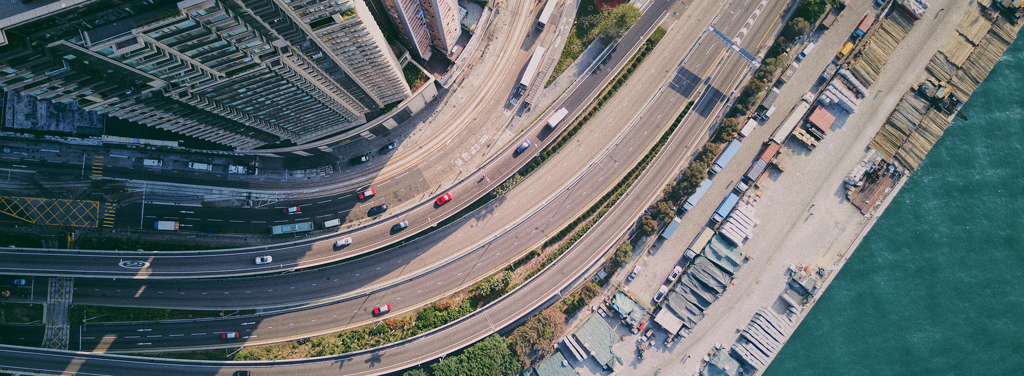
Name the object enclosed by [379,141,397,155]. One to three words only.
car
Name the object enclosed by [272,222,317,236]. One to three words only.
vehicle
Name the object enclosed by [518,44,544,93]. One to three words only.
bus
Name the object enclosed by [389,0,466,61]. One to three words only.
building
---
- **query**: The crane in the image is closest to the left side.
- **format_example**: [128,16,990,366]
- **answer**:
[925,82,967,121]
